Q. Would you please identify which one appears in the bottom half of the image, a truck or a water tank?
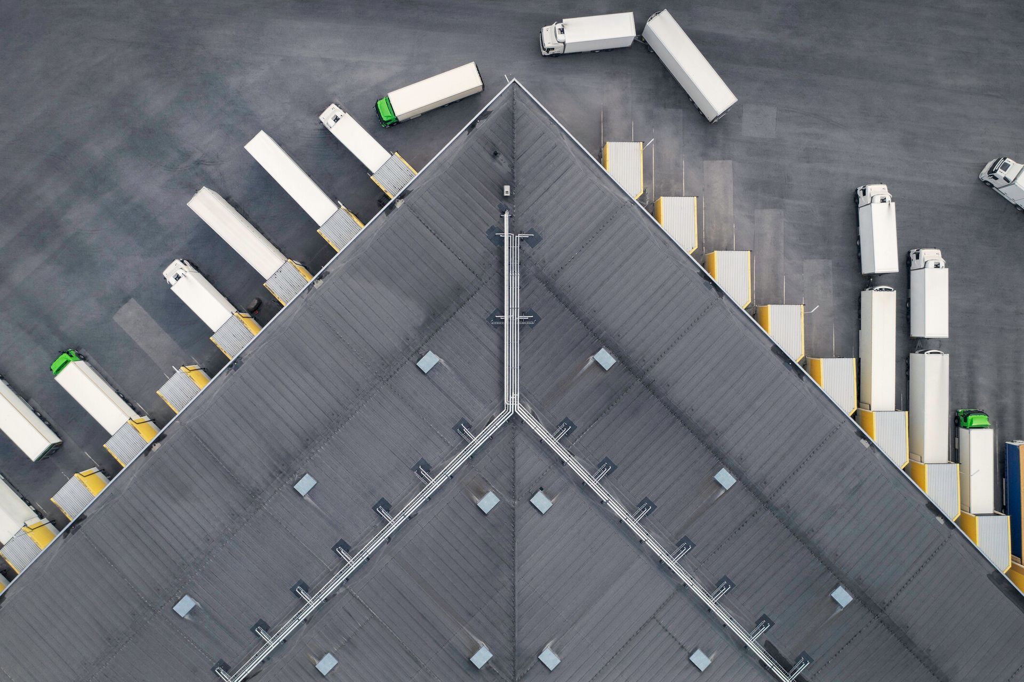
truck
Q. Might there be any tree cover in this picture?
No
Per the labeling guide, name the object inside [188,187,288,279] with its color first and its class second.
white trailer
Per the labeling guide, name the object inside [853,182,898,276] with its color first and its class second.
white truck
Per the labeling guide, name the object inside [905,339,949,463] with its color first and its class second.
white trailer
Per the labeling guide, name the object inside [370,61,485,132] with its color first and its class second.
white truck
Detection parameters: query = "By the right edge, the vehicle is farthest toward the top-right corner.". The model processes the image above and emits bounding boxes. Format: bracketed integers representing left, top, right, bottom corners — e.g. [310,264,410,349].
[976,154,1024,217]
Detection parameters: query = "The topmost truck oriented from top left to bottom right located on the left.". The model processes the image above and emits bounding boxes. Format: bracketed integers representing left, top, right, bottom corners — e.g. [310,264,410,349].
[318,100,391,172]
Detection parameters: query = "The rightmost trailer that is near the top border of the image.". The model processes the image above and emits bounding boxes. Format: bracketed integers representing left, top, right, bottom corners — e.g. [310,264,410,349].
[640,9,738,124]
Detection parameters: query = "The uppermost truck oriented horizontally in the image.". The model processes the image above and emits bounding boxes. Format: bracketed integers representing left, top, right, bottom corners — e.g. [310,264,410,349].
[538,11,636,57]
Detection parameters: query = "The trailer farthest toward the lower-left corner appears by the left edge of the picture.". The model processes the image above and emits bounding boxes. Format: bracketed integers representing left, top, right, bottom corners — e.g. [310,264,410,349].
[0,474,40,543]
